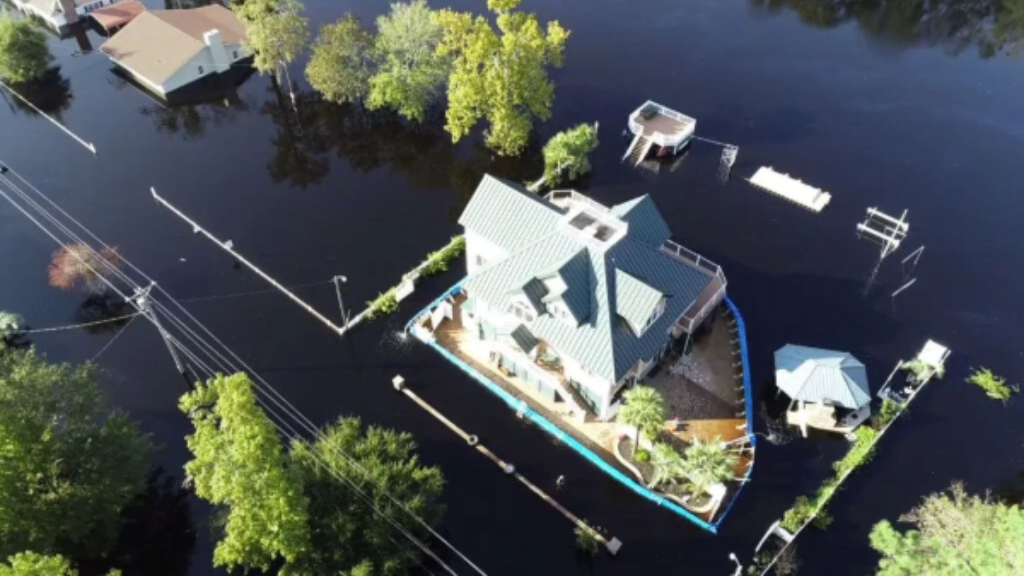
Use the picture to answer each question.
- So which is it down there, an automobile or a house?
house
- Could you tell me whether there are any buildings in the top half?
Yes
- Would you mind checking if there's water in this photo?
Yes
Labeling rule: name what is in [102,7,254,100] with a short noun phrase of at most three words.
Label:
house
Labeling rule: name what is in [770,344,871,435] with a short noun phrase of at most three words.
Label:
gazebo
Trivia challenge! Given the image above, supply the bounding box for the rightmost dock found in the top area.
[742,167,831,215]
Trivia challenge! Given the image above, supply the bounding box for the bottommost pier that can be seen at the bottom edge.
[602,534,625,559]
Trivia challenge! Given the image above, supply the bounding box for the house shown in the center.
[457,171,726,425]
